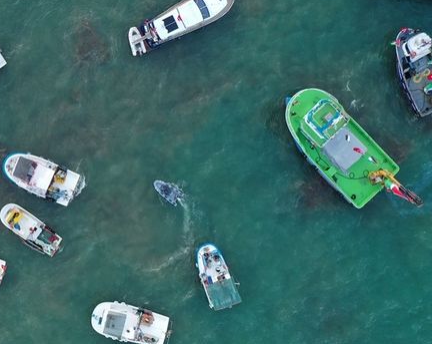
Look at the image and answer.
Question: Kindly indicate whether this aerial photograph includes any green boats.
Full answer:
Yes, there's a green boat here.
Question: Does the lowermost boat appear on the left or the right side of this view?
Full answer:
The lowermost boat appears in the left half of the scene.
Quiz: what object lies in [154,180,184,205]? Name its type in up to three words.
boat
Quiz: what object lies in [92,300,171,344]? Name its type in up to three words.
boat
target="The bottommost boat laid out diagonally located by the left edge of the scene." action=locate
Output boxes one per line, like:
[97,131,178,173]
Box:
[0,205,64,257]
